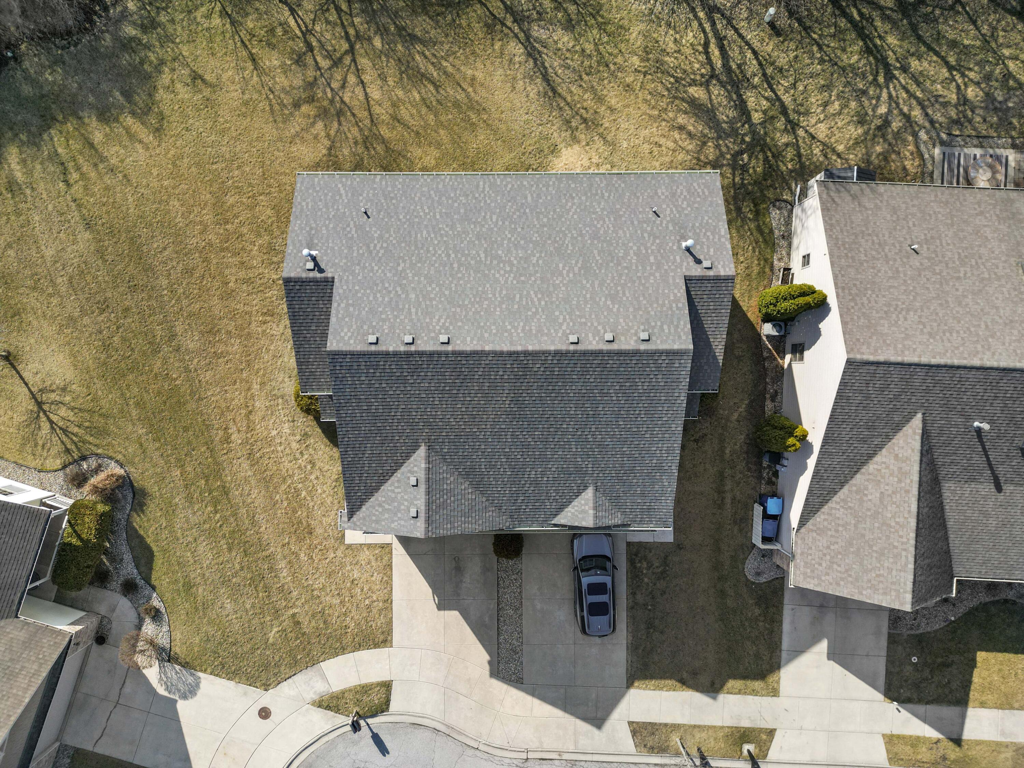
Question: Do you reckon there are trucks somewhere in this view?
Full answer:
No, no truck is visible in the view.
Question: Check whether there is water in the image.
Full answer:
No, the picture contains no water.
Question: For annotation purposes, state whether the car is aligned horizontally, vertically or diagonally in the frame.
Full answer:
The car has been laid out vertically relative to the frame.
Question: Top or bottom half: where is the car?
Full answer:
It is in the bottom half that the car appears.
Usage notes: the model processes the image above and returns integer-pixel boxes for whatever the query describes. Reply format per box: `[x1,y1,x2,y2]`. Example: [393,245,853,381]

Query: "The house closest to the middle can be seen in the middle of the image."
[282,169,734,539]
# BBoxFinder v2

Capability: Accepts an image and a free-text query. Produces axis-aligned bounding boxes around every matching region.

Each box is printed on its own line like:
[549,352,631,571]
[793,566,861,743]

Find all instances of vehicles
[568,534,621,639]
